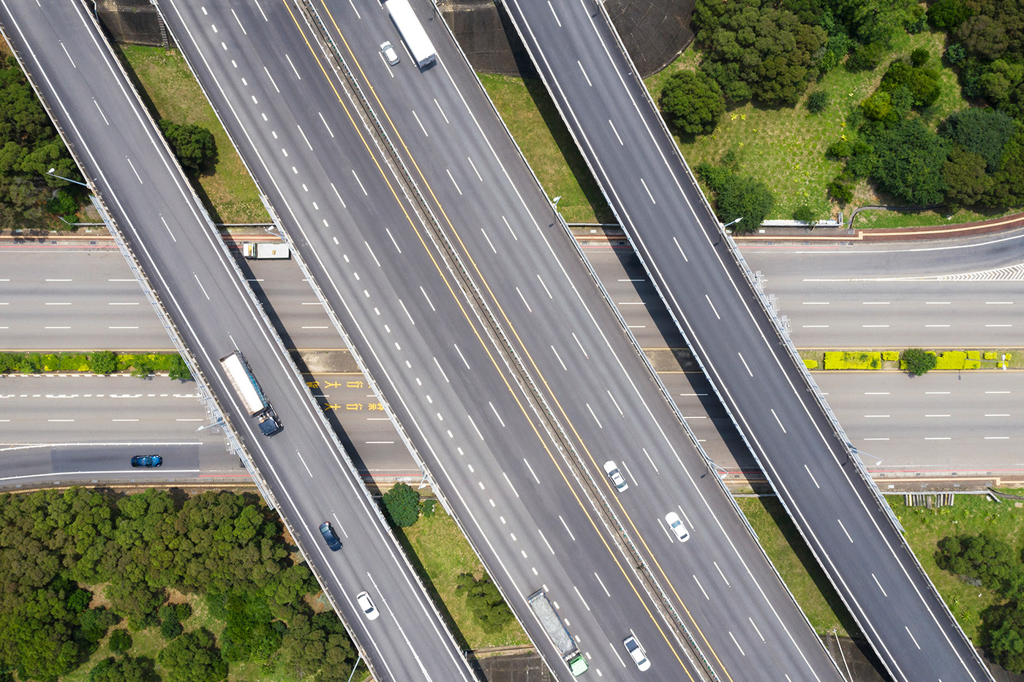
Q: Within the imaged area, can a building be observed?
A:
No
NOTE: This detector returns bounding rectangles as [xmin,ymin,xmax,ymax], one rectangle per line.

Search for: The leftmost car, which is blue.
[131,454,163,469]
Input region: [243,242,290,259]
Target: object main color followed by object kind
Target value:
white vehicle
